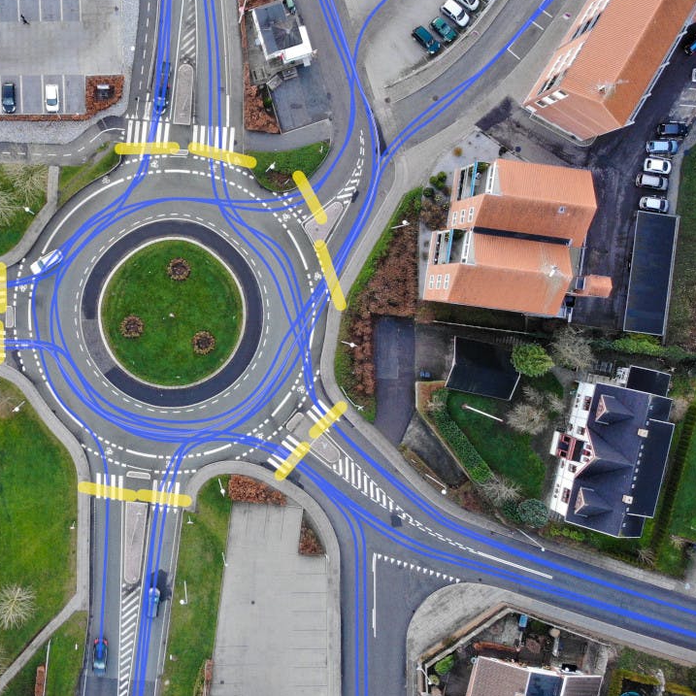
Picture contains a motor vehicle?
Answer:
Yes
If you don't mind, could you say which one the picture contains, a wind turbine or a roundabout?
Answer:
roundabout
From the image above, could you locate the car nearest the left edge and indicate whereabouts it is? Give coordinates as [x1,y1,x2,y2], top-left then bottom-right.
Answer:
[0,82,17,114]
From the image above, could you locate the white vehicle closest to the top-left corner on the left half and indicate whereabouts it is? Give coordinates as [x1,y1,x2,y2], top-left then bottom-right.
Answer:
[43,84,59,113]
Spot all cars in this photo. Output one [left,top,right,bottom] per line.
[681,32,696,56]
[638,196,669,212]
[656,121,688,138]
[641,157,672,173]
[43,84,59,113]
[457,0,480,13]
[645,139,678,155]
[411,24,441,56]
[147,587,161,619]
[635,173,669,190]
[690,68,696,84]
[31,249,63,274]
[429,15,458,44]
[0,82,17,114]
[152,86,168,116]
[439,0,470,28]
